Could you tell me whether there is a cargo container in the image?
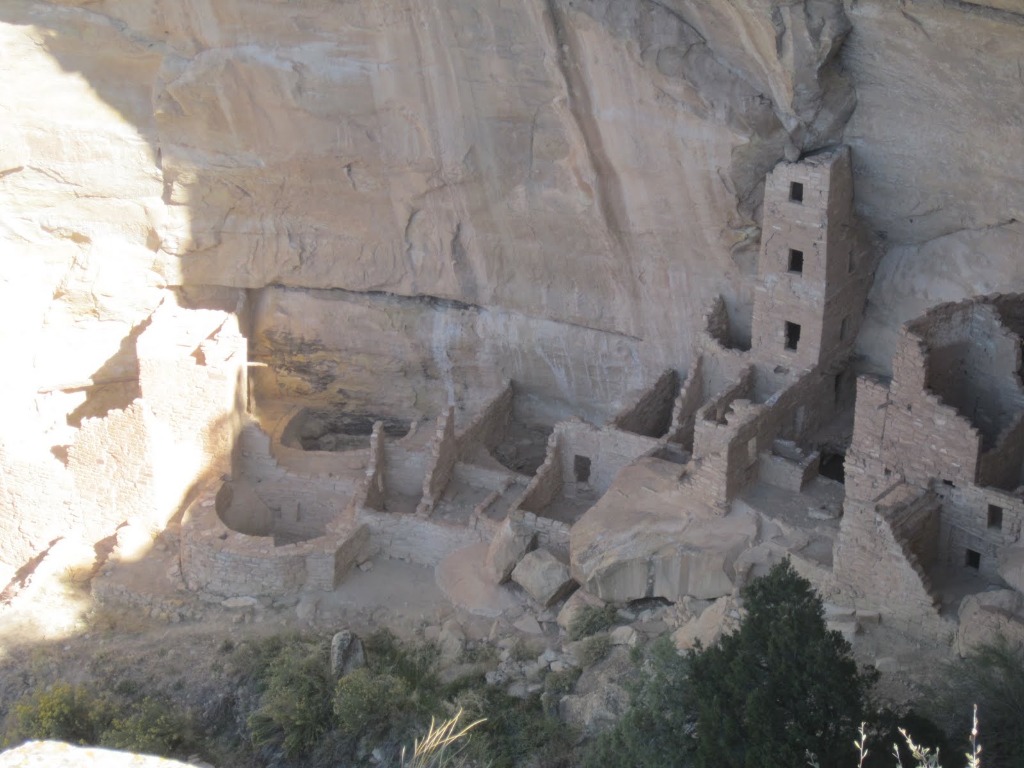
No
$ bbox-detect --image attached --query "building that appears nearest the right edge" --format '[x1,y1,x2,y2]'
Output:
[840,292,1024,611]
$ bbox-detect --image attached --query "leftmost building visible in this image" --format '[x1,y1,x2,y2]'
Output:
[137,296,269,533]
